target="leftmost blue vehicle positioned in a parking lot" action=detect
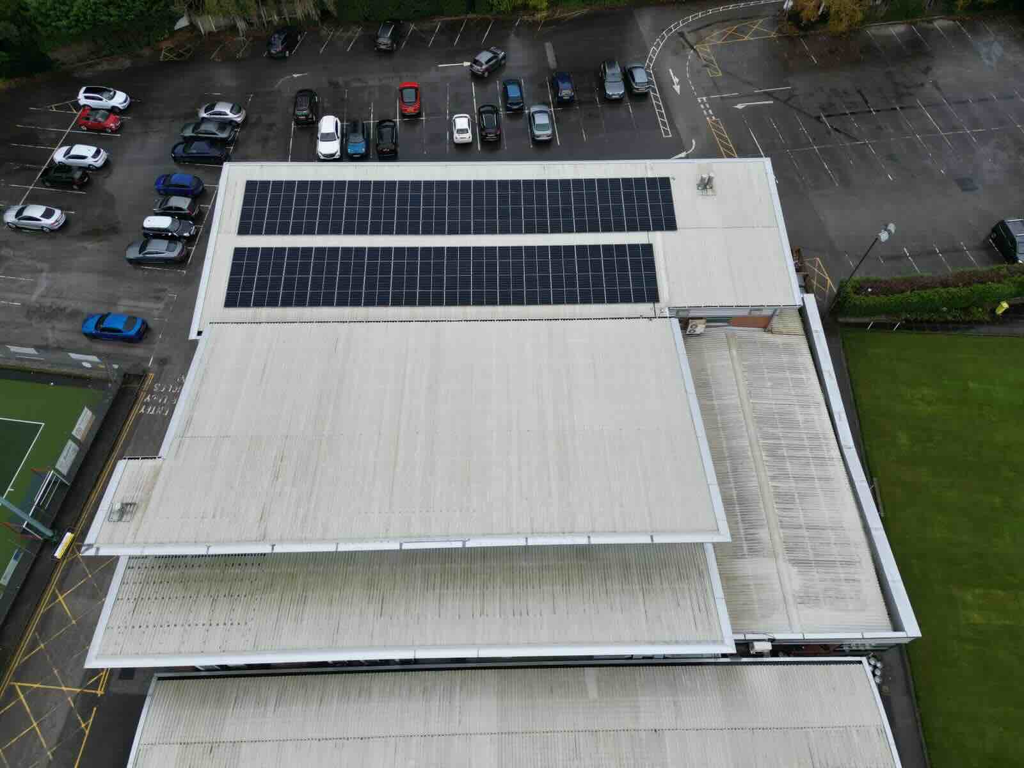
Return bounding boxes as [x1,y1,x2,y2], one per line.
[80,312,151,344]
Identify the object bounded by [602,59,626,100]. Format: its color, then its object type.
gray car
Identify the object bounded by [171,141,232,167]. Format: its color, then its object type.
black car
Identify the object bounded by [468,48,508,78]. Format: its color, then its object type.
gray car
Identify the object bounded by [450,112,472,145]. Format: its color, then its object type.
white car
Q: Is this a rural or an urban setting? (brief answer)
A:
urban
